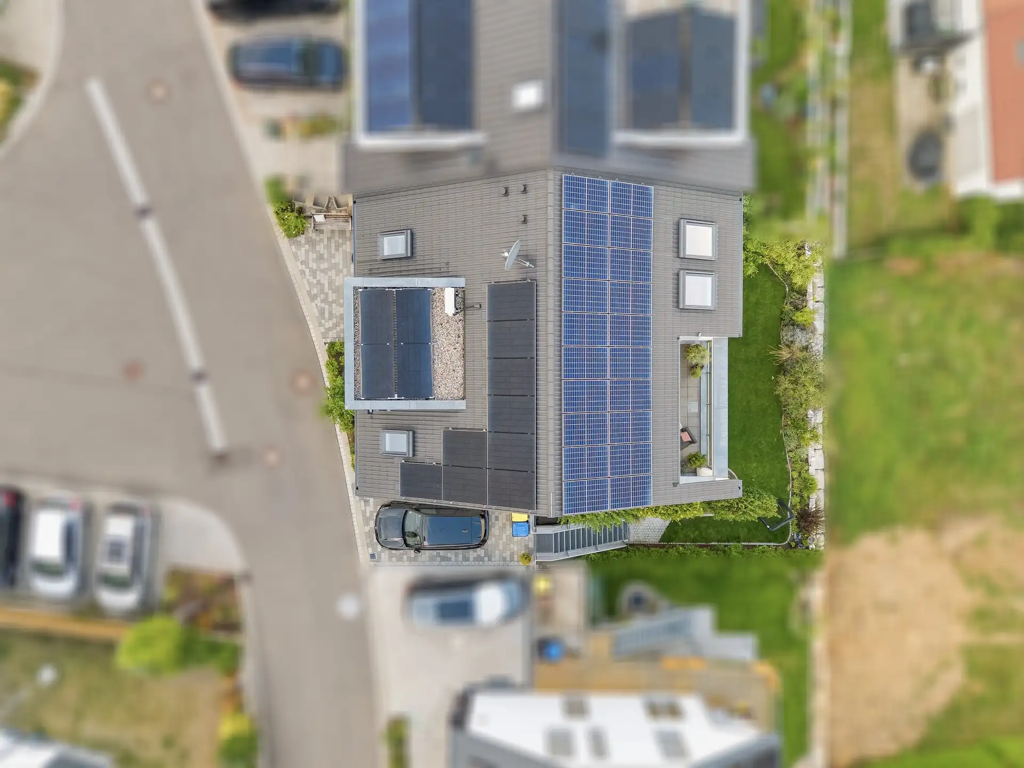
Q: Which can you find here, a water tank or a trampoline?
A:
trampoline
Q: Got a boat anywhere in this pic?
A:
No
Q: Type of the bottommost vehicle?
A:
car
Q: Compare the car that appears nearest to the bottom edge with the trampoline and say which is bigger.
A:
the car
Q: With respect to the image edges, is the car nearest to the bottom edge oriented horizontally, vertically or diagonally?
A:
horizontally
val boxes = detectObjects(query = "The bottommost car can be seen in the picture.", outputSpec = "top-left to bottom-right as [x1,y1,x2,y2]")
[406,573,524,632]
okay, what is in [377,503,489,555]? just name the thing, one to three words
car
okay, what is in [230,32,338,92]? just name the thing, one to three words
car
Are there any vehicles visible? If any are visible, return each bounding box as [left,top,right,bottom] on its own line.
[230,32,338,92]
[91,499,155,609]
[23,489,91,600]
[377,503,489,555]
[0,479,32,591]
[406,573,524,632]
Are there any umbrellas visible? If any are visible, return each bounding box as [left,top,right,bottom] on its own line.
[896,3,941,51]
